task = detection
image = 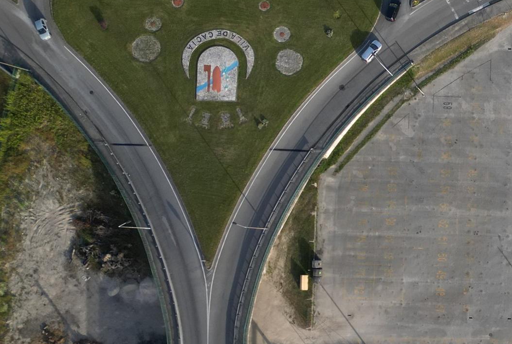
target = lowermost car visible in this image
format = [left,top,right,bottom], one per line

[359,38,383,63]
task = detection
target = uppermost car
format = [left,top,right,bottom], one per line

[384,0,398,23]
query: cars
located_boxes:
[359,38,383,63]
[31,15,49,39]
[384,0,398,23]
